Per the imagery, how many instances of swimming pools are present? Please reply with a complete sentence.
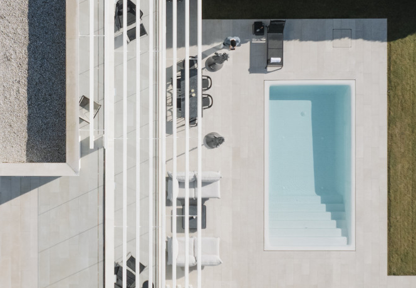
My tally gives 1 swimming pool in this photo.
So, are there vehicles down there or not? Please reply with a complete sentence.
No, the scene contains no vehicle.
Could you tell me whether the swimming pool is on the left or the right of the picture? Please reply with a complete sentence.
The swimming pool appears in the right half of the scene.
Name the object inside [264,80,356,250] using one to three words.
swimming pool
